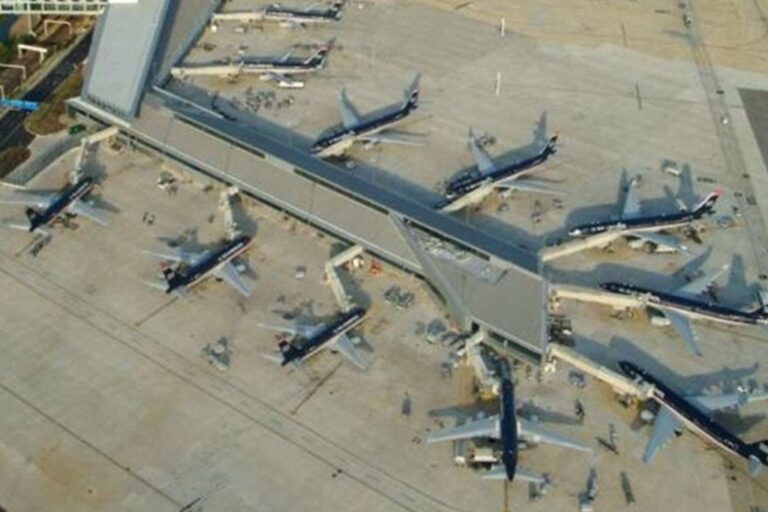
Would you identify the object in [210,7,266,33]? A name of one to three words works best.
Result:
jet bridge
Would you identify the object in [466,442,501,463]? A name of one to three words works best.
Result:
vehicle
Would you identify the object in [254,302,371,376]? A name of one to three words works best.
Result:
airplane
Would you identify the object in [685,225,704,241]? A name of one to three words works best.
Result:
work vehicle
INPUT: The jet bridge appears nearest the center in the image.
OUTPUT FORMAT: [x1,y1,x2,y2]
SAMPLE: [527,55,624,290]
[326,243,362,314]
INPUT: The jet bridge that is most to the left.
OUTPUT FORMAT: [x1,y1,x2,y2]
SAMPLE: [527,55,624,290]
[70,126,120,184]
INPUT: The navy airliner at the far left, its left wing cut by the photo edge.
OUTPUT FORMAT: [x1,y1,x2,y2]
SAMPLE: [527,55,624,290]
[0,175,111,236]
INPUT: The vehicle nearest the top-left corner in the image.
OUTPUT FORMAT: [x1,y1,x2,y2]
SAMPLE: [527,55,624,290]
[66,123,87,136]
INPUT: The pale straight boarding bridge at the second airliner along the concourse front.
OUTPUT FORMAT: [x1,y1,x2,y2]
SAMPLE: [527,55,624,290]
[221,186,244,241]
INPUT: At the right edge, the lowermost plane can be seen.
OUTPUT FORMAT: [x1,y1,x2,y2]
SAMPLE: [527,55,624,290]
[617,361,768,478]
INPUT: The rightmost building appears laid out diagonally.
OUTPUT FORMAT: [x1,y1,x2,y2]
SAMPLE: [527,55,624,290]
[64,0,548,383]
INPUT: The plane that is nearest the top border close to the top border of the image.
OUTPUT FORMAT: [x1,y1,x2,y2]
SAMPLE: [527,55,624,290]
[248,0,344,35]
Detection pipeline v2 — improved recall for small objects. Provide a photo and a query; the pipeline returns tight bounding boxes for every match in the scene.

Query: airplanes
[617,361,768,478]
[602,267,768,352]
[0,175,111,236]
[141,233,252,300]
[310,85,431,159]
[426,378,593,483]
[568,181,724,256]
[220,41,324,91]
[254,302,371,376]
[447,130,571,200]
[248,0,344,35]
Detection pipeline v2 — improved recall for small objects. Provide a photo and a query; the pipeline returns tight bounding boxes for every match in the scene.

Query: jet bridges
[536,219,632,265]
[436,174,494,219]
[548,286,654,322]
[221,186,244,241]
[463,327,511,396]
[303,130,357,166]
[70,126,120,184]
[210,7,266,33]
[543,343,664,406]
[326,243,362,314]
[170,60,244,89]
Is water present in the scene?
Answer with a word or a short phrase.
No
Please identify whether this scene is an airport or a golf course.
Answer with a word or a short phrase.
airport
